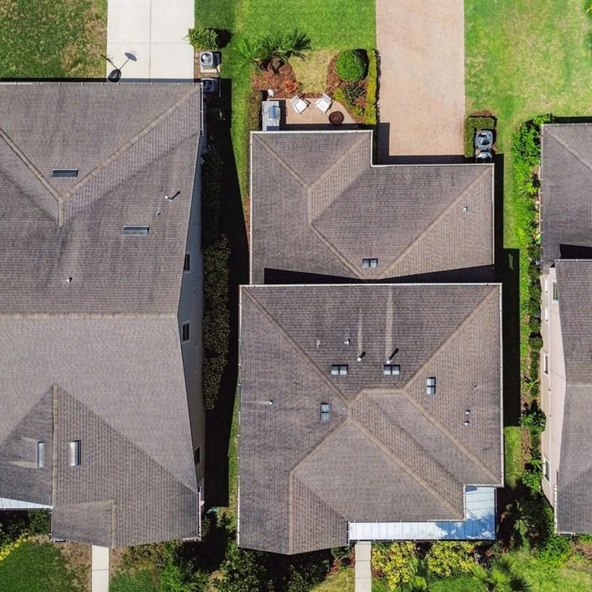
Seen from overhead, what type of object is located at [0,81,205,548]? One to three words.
house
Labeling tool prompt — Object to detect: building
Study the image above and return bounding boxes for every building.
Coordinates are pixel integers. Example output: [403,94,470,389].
[0,81,205,548]
[539,123,592,539]
[235,129,503,554]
